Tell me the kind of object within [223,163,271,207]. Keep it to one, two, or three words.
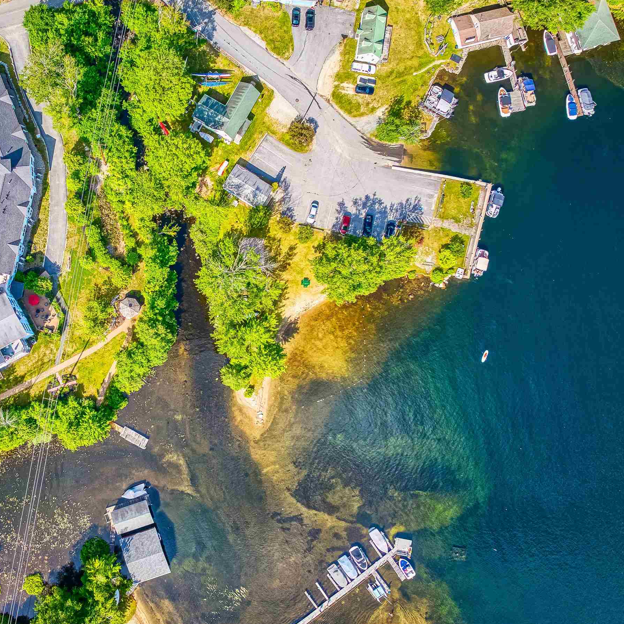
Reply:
shed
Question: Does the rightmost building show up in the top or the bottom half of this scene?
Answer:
top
